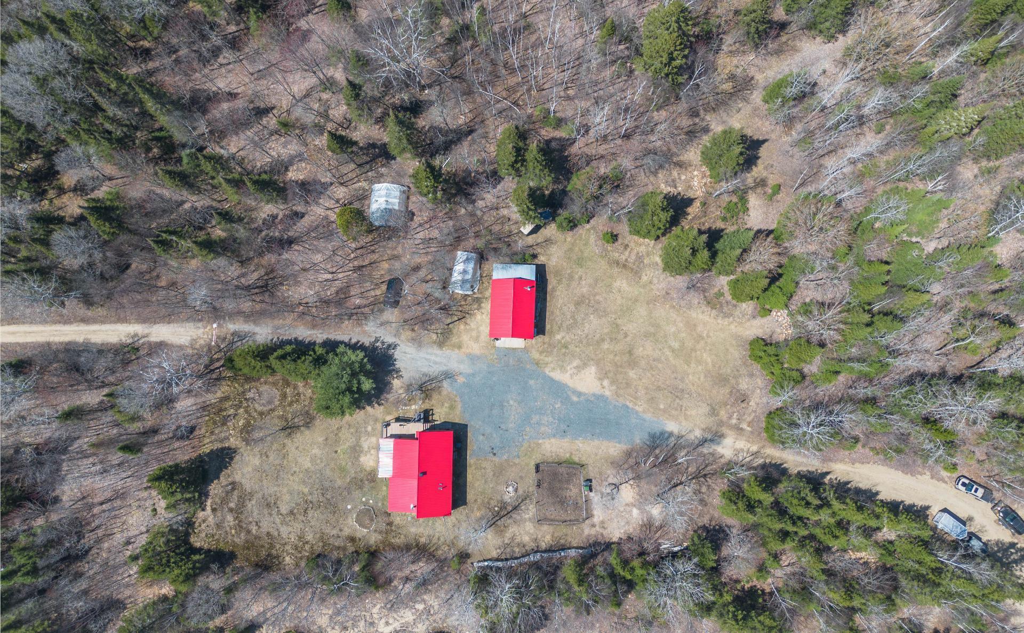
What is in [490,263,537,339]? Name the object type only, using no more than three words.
building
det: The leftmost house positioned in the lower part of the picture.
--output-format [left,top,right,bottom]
[380,408,453,518]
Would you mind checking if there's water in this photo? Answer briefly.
No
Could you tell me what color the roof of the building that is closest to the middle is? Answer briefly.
red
